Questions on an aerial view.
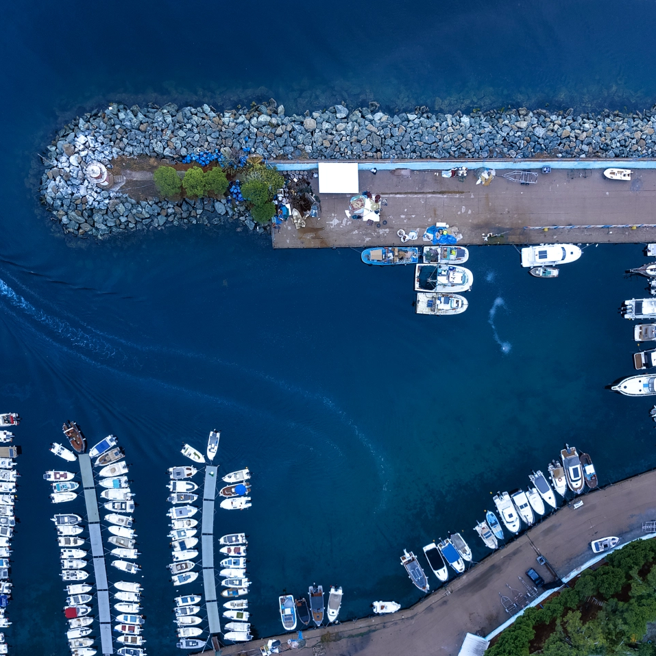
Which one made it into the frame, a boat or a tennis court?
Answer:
boat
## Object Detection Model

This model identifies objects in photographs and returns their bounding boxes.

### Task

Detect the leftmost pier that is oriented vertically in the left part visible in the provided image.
[78,453,114,653]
